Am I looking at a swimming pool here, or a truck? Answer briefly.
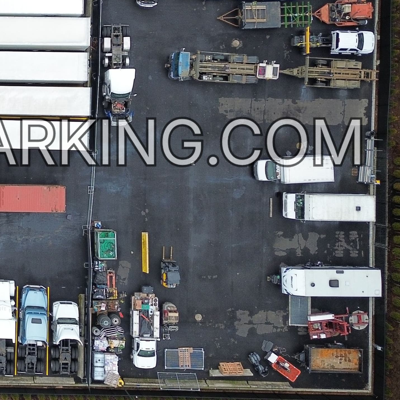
truck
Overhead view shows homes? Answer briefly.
No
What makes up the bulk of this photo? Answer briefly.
paved ground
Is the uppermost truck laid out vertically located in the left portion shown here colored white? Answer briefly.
Yes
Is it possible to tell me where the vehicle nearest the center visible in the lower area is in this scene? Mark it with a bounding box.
[160,246,179,289]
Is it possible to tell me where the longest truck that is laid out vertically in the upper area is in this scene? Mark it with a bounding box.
[102,24,139,127]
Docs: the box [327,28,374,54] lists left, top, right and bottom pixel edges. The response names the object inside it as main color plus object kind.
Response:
white car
